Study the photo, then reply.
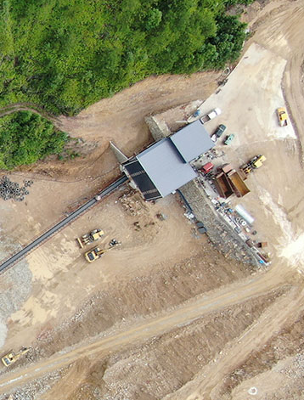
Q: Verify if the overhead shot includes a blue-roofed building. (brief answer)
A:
No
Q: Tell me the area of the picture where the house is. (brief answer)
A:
center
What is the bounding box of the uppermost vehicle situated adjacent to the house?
[201,107,222,124]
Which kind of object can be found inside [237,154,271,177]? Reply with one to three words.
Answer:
work vehicle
